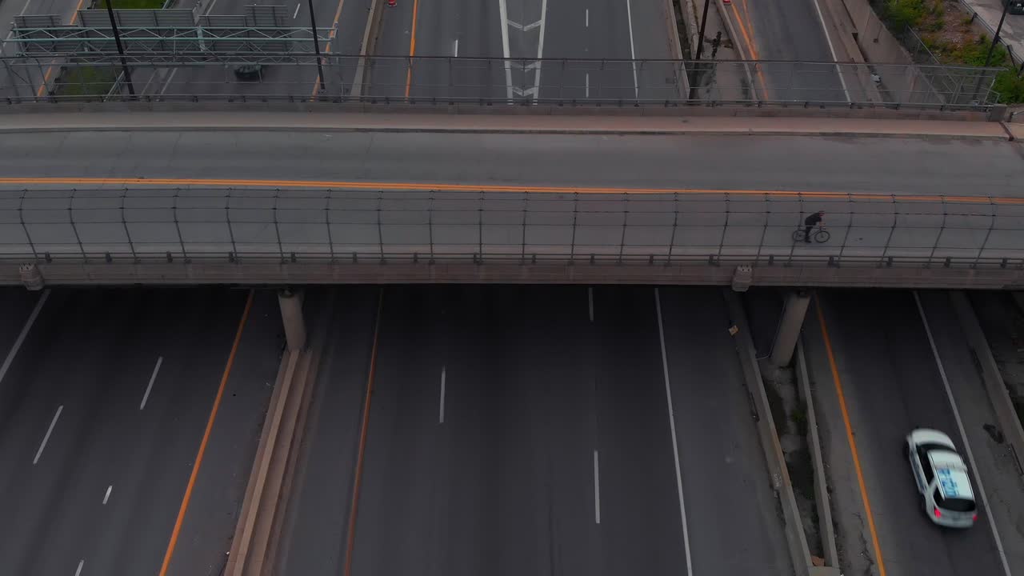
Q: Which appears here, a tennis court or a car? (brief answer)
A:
car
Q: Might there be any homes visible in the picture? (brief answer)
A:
No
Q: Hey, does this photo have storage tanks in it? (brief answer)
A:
No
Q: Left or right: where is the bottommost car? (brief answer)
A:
right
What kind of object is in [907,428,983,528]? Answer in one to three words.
car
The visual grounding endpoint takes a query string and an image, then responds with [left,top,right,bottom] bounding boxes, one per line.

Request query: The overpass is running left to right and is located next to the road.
[0,101,1024,368]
